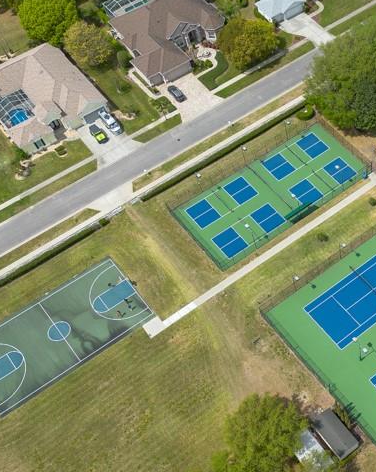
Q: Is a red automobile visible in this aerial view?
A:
No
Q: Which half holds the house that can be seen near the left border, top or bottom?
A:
top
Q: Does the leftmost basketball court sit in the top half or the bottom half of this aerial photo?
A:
bottom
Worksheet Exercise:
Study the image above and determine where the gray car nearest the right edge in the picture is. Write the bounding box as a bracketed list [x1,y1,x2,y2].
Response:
[168,84,184,101]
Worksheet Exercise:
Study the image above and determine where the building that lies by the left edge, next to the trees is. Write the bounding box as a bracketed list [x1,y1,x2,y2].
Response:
[0,39,110,160]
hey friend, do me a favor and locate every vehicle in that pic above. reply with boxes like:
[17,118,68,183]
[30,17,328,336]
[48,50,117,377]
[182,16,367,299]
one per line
[101,111,119,132]
[168,84,184,101]
[92,124,109,142]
